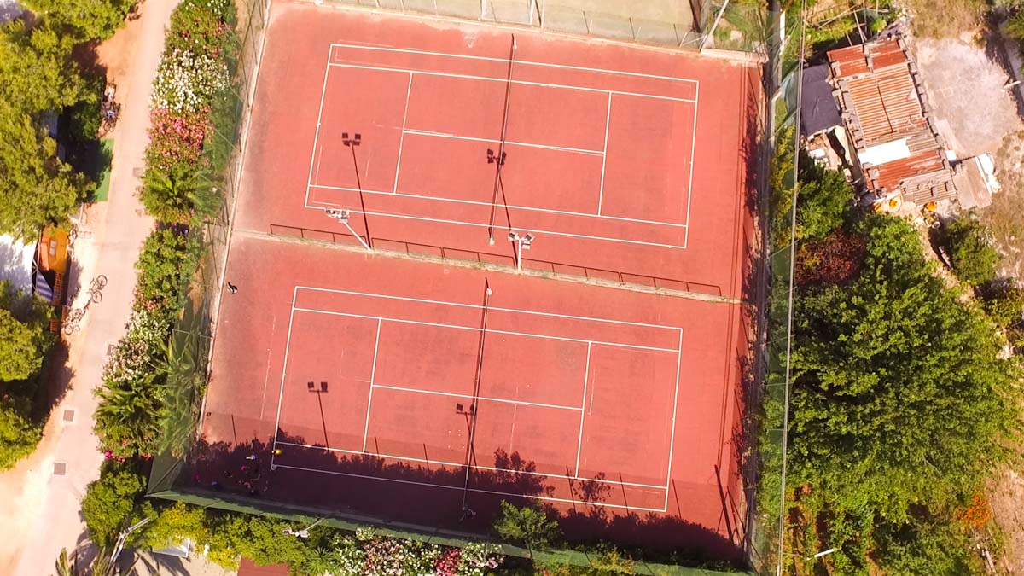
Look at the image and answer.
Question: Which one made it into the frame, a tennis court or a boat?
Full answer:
It is a tennis court that can be seen here.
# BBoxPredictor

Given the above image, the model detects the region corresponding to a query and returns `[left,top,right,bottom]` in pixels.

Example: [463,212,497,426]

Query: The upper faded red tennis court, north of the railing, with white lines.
[231,0,764,295]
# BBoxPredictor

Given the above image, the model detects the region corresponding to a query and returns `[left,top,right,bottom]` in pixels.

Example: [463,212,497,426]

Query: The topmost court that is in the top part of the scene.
[336,0,693,46]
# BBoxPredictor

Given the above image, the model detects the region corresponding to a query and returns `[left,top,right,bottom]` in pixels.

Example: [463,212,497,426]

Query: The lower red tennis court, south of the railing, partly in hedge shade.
[174,238,751,566]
